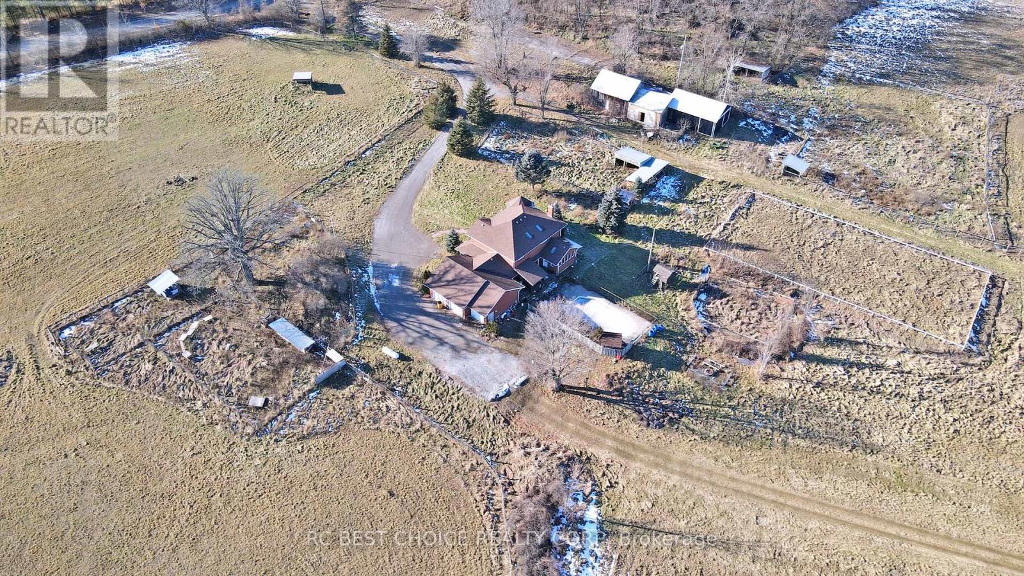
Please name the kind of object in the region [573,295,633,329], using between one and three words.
swimming pool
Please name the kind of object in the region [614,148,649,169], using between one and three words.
shed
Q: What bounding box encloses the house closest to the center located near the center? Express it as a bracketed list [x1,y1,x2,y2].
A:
[423,195,585,325]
